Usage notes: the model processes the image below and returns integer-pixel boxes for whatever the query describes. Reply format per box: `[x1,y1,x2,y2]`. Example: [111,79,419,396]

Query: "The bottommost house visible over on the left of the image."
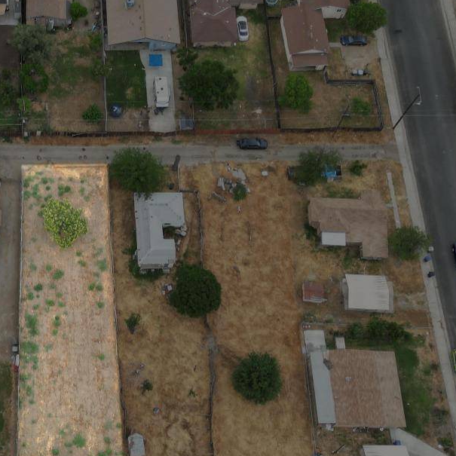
[134,191,184,271]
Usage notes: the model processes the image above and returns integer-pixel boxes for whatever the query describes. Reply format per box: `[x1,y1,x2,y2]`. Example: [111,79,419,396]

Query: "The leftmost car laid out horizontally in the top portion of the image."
[236,136,267,150]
